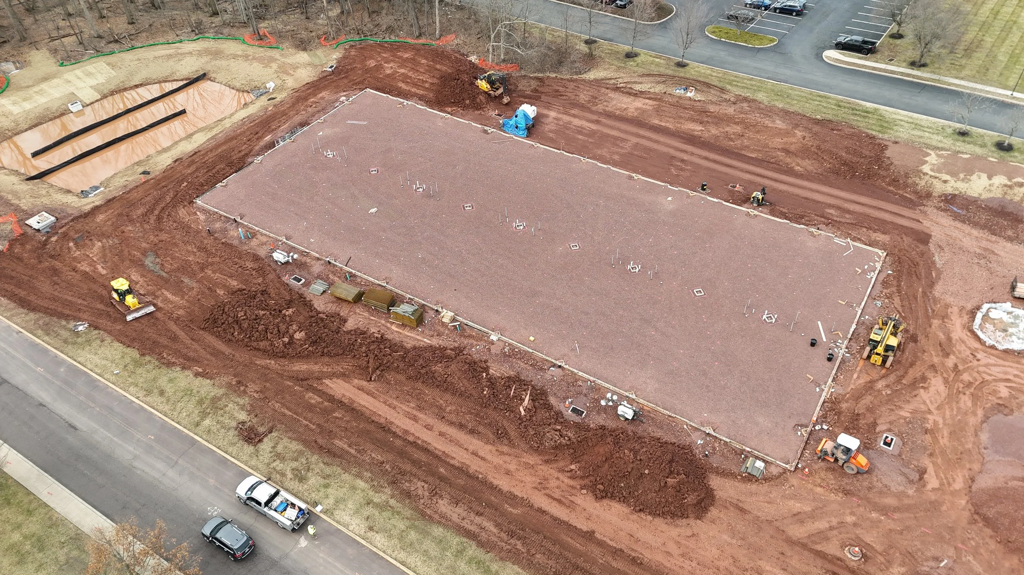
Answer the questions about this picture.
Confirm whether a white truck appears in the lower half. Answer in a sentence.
Yes, looking in the lower half, one can make out a white truck.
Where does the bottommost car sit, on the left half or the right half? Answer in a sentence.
The bottommost car is on the left side of the image.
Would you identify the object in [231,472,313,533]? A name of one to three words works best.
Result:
truck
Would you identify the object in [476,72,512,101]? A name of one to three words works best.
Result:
work vehicle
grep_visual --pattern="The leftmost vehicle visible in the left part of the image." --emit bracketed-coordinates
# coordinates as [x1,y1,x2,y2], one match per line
[117,277,160,320]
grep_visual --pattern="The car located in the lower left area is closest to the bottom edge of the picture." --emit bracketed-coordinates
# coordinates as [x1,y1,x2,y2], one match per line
[198,513,255,561]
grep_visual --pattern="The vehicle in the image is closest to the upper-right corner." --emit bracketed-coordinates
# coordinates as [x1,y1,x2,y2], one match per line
[833,34,877,53]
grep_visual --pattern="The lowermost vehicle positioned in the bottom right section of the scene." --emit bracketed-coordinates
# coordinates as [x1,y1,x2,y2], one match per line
[812,429,875,477]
